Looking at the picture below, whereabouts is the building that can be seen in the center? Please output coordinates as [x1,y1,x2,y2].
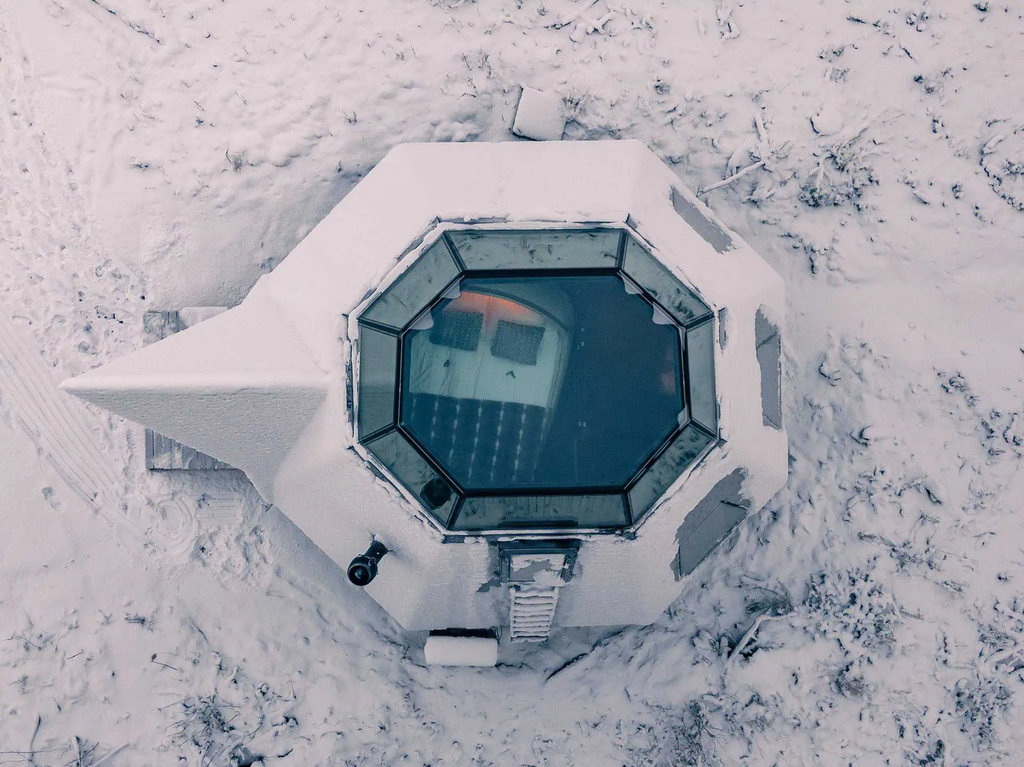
[59,141,787,627]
